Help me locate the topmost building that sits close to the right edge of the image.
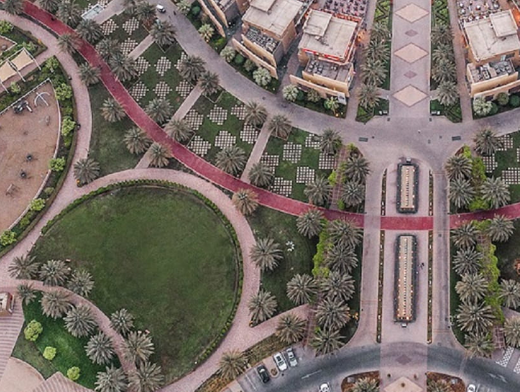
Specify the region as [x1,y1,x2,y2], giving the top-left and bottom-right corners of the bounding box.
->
[465,10,520,96]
